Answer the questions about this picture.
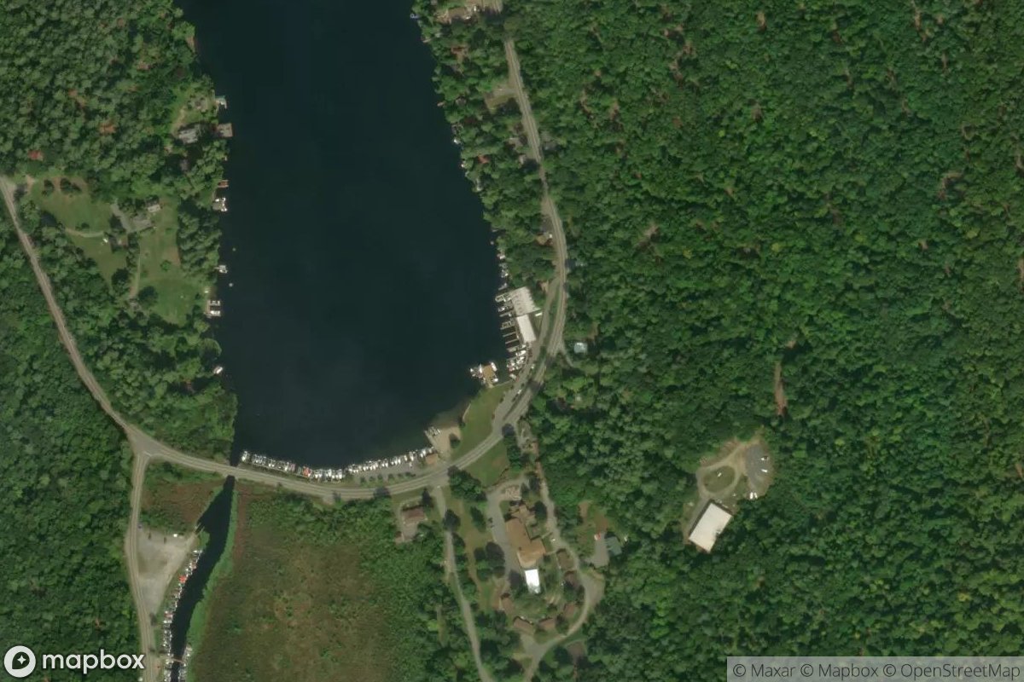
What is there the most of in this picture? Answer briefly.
trees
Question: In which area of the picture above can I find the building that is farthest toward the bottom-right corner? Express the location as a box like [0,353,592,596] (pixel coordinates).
[690,504,733,552]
